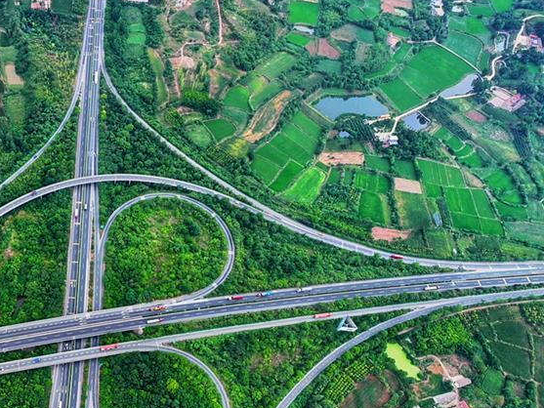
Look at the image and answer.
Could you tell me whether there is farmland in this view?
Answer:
Yes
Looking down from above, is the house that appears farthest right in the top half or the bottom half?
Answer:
top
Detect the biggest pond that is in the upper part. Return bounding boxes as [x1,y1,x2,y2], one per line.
[314,94,392,121]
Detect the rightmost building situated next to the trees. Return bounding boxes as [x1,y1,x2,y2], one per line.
[513,33,544,54]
